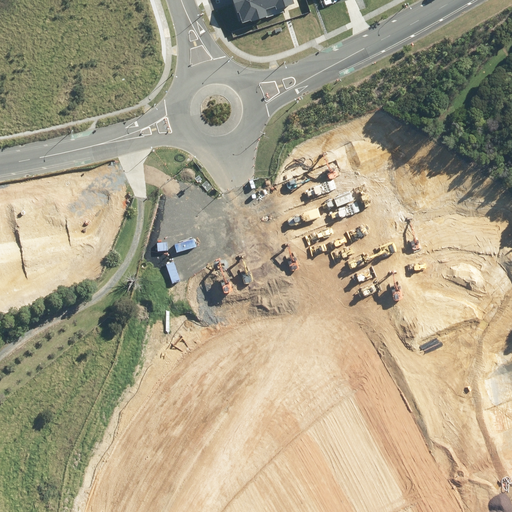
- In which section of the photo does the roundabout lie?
top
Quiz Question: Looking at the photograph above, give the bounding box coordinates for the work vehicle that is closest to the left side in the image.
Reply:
[216,260,234,296]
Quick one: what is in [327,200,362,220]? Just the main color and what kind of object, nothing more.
white vehicle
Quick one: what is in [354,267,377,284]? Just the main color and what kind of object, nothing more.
white work vehicle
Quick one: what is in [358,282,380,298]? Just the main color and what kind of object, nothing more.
white work vehicle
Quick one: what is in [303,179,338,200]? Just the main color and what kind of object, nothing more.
white vehicle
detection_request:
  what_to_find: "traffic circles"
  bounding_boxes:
[190,84,243,137]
